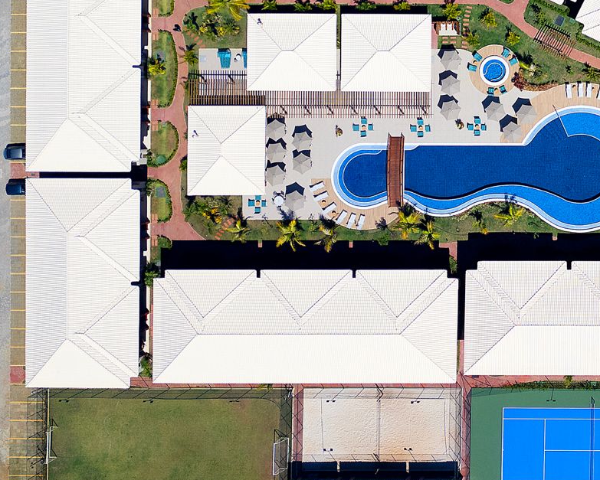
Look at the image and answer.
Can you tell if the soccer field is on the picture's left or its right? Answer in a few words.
left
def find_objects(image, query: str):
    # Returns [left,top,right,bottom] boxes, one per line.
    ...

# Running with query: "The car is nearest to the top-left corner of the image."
[2,142,28,159]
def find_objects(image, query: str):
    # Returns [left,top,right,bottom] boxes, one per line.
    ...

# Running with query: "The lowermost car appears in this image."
[5,180,26,194]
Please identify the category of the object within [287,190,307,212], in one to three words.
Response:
umbrella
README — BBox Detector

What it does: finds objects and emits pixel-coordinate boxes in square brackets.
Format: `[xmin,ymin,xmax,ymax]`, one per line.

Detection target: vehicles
[2,142,28,159]
[5,180,26,194]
